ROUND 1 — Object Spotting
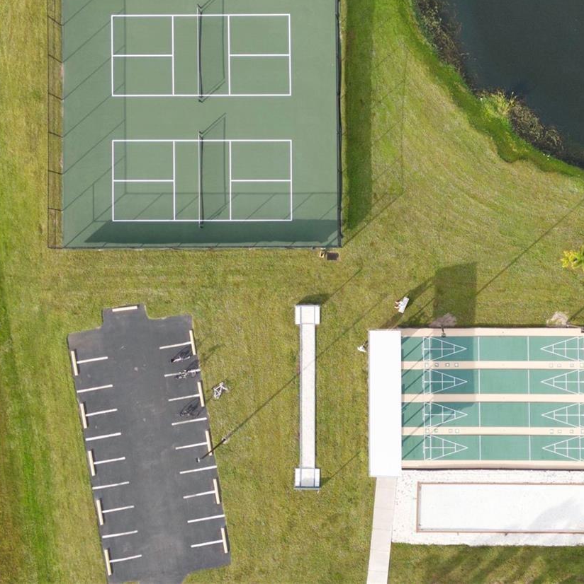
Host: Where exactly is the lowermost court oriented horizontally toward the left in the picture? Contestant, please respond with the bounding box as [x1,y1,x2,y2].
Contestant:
[63,117,343,247]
